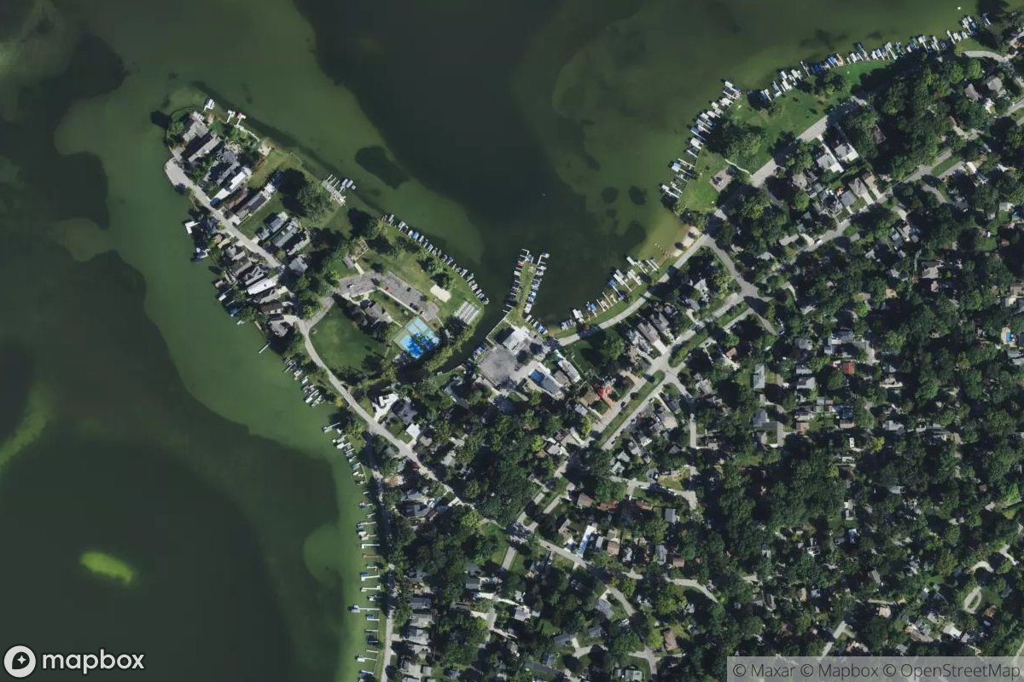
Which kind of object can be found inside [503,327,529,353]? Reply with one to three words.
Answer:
house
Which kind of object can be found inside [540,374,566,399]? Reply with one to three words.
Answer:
house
